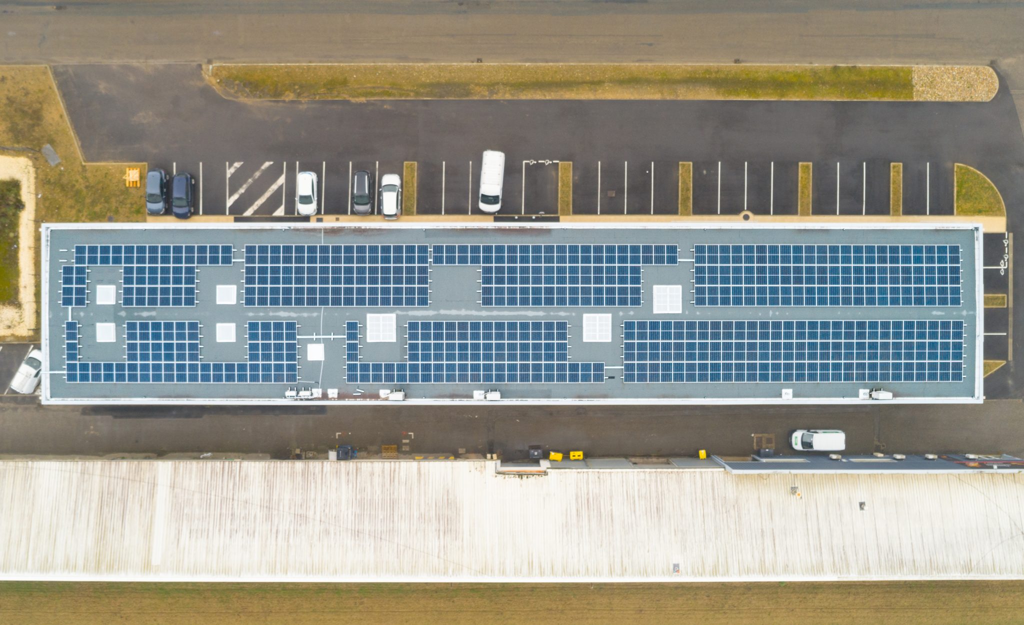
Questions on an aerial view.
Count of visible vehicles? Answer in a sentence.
My tally gives 8 vehicles in this view.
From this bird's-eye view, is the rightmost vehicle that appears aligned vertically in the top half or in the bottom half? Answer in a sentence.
The top half of the photo is where the rightmost vehicle that appears aligned vertically is.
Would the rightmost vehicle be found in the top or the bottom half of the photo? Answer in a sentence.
You can find the rightmost vehicle in the bottom half.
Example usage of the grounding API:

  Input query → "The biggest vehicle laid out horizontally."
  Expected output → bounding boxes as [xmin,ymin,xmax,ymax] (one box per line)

[787,427,848,451]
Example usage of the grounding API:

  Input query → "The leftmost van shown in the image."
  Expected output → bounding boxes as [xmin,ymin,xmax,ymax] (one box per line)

[11,347,41,393]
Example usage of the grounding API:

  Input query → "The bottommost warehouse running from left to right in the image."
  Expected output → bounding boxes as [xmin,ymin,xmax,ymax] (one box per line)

[0,451,1024,581]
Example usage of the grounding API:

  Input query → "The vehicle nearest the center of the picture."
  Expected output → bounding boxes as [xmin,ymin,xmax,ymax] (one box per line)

[476,150,502,213]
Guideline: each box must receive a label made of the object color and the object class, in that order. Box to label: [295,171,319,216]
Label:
white car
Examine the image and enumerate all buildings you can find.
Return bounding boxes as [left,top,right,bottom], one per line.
[0,451,1024,581]
[41,223,984,404]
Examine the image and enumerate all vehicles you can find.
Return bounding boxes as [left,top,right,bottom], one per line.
[168,171,196,221]
[143,168,170,215]
[476,150,502,213]
[11,347,41,393]
[378,173,401,220]
[350,169,374,217]
[295,171,319,216]
[787,427,848,451]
